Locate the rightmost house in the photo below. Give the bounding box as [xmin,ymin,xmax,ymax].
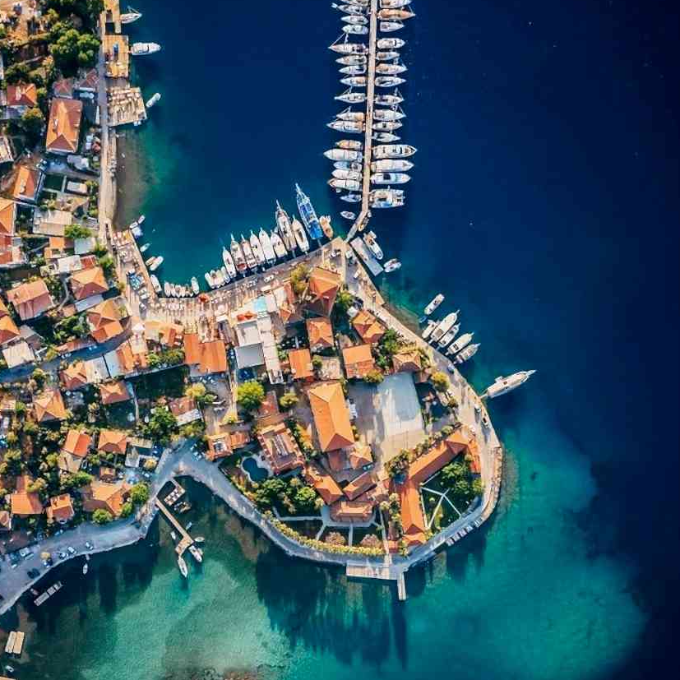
[467,438,481,473]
